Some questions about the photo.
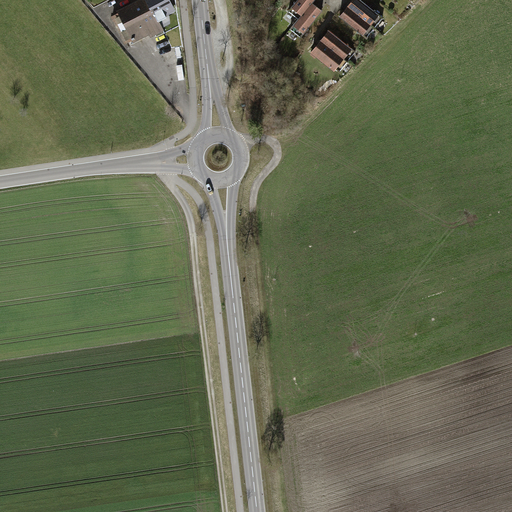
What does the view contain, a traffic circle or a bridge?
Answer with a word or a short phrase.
traffic circle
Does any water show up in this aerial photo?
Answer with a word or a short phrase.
No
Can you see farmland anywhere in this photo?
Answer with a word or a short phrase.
Yes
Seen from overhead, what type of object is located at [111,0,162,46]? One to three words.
house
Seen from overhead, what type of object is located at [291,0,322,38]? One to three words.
house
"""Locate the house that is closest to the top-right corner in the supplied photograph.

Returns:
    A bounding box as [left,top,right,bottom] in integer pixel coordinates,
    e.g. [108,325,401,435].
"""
[340,0,382,40]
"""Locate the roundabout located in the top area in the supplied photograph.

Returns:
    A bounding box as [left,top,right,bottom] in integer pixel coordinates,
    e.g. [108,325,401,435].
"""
[188,128,249,188]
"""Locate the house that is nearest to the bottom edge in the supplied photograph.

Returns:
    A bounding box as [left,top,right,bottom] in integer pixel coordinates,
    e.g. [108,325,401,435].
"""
[312,32,355,74]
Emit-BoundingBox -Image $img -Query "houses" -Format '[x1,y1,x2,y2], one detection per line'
[340,0,382,40]
[111,0,162,46]
[291,0,322,38]
[312,32,355,74]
